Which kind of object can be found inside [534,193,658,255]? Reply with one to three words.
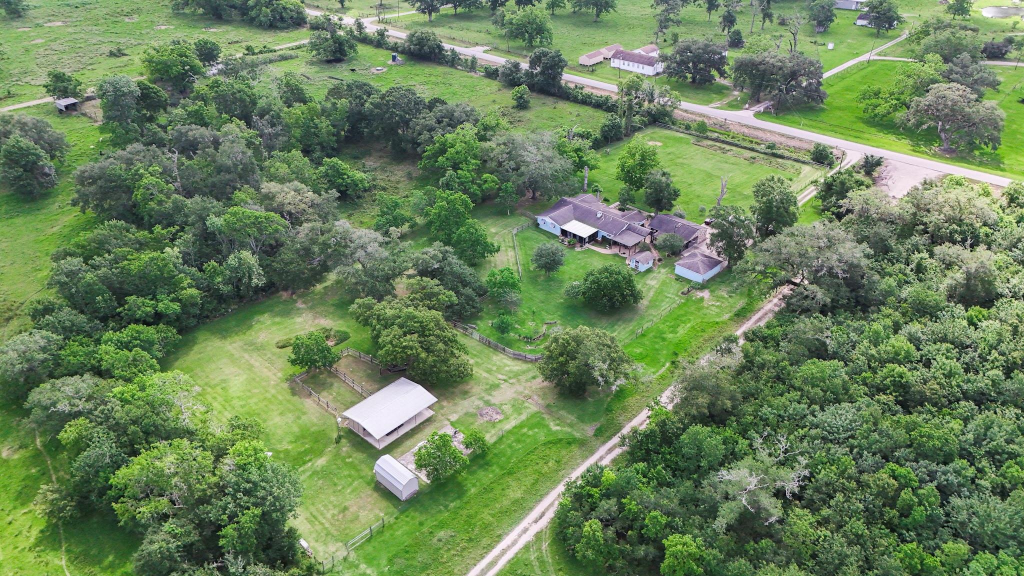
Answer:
house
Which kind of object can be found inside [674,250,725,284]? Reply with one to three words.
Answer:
building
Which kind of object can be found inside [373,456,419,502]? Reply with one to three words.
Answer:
shed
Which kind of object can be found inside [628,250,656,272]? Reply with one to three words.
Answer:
shed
